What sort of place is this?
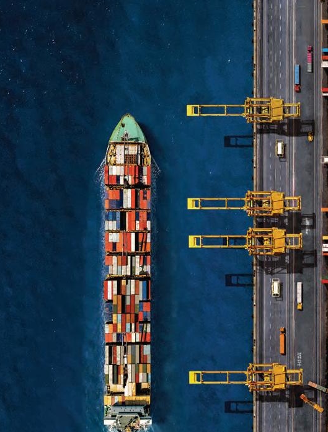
port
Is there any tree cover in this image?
No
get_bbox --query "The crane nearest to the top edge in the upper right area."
[186,97,300,128]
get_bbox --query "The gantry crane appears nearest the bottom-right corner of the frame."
[189,362,302,393]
